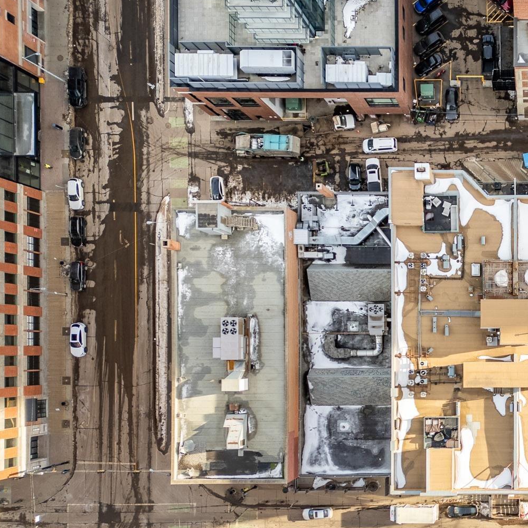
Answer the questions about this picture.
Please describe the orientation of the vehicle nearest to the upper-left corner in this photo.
from top to bottom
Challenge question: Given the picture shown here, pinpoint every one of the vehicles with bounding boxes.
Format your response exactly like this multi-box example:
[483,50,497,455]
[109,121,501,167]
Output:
[365,157,382,191]
[491,0,514,13]
[231,132,302,155]
[69,323,88,357]
[447,503,478,519]
[345,161,362,191]
[68,126,88,160]
[363,136,398,154]
[390,504,437,527]
[302,506,333,522]
[412,0,442,15]
[415,5,448,36]
[208,172,226,203]
[67,178,86,209]
[66,66,87,108]
[68,216,88,248]
[412,28,447,59]
[414,51,444,78]
[317,113,356,129]
[67,260,88,293]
